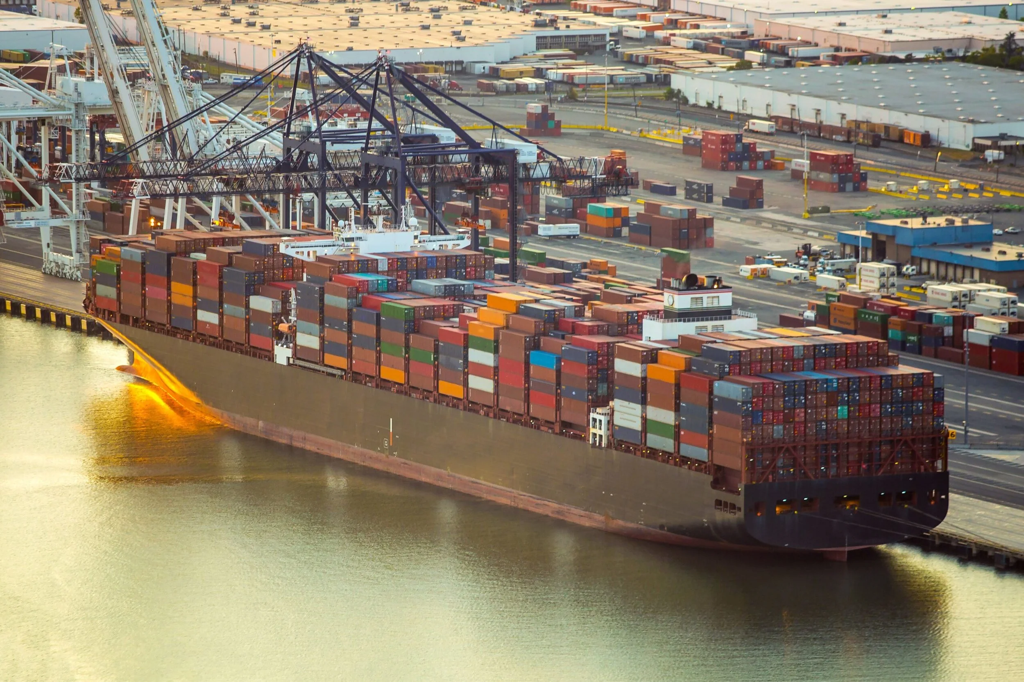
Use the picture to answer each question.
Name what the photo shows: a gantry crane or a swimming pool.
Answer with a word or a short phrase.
gantry crane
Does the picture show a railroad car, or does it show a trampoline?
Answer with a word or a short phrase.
railroad car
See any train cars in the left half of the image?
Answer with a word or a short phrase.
No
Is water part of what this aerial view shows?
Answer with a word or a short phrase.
Yes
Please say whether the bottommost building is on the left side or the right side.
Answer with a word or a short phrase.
right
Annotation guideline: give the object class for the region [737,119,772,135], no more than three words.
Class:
vehicle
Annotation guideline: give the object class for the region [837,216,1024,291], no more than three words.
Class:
building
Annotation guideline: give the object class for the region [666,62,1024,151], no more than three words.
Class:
building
